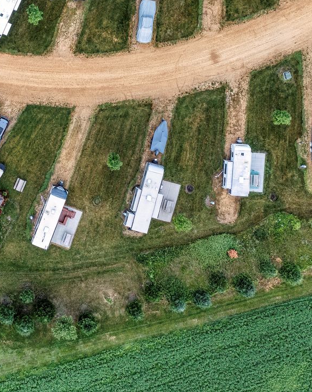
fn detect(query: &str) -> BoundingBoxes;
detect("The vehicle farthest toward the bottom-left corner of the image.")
[30,181,67,249]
